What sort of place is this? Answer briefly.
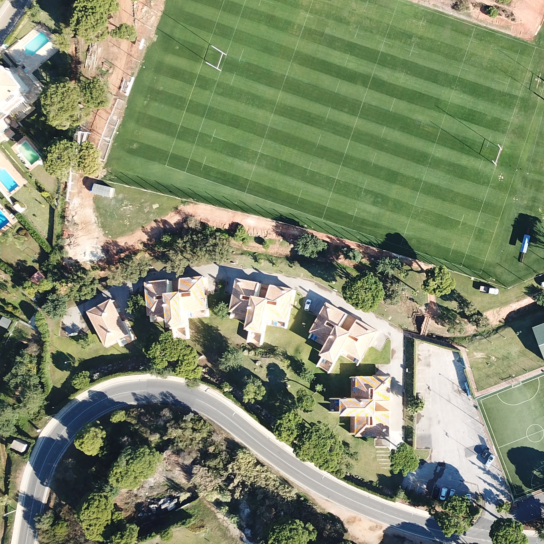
sports ground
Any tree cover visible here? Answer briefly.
Yes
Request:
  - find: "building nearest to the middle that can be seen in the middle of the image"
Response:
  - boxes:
[230,279,300,346]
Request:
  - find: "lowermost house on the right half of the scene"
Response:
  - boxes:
[330,373,392,437]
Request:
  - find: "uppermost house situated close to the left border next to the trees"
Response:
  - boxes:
[0,66,38,140]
